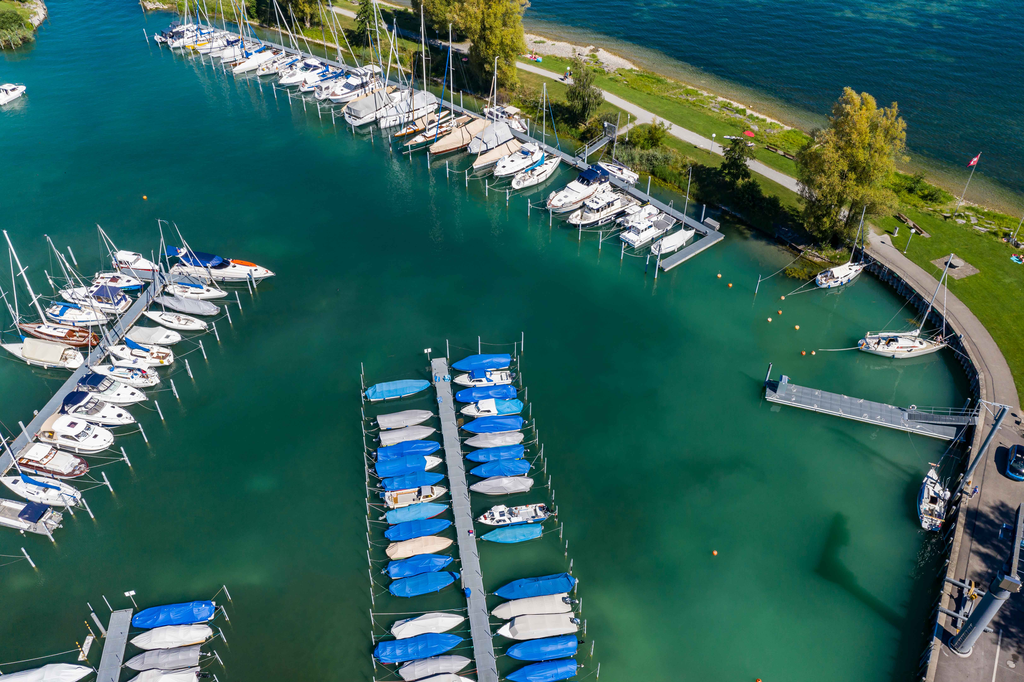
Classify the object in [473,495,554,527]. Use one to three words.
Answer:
boat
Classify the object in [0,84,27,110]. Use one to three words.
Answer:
boat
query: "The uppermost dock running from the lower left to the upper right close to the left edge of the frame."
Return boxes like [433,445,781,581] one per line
[0,282,163,484]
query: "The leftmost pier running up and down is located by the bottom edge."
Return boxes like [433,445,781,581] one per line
[97,608,135,682]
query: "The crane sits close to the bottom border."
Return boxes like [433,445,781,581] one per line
[948,489,1024,657]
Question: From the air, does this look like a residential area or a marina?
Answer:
marina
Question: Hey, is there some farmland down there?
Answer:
No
